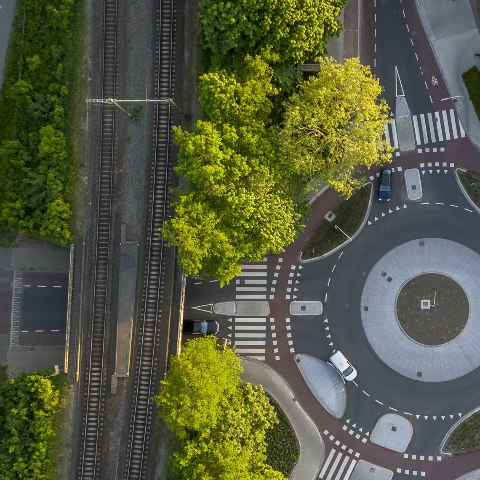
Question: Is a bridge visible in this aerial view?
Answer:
Yes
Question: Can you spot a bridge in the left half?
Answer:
Yes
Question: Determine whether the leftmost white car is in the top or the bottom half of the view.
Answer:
bottom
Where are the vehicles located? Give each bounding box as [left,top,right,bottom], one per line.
[376,167,393,201]
[328,349,357,382]
[184,320,218,336]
